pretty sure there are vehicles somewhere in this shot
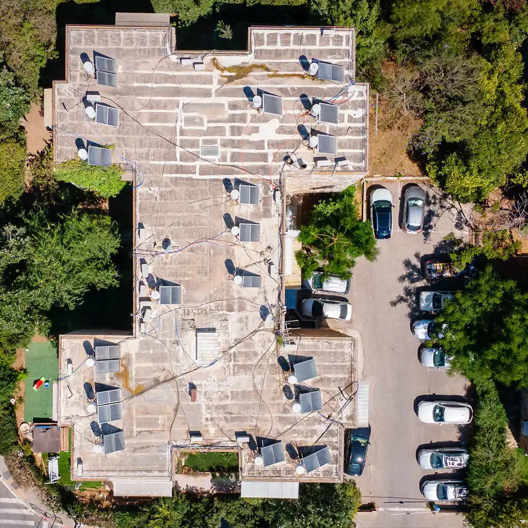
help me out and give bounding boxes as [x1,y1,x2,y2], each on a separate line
[411,317,460,343]
[418,346,475,370]
[299,296,354,322]
[415,400,475,428]
[301,272,352,295]
[420,479,476,505]
[416,448,473,474]
[369,188,396,240]
[417,288,473,314]
[344,428,372,478]
[400,185,424,235]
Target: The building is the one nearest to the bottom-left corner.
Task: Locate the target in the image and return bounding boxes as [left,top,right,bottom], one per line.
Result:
[34,420,64,452]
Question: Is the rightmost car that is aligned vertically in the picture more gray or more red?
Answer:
gray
